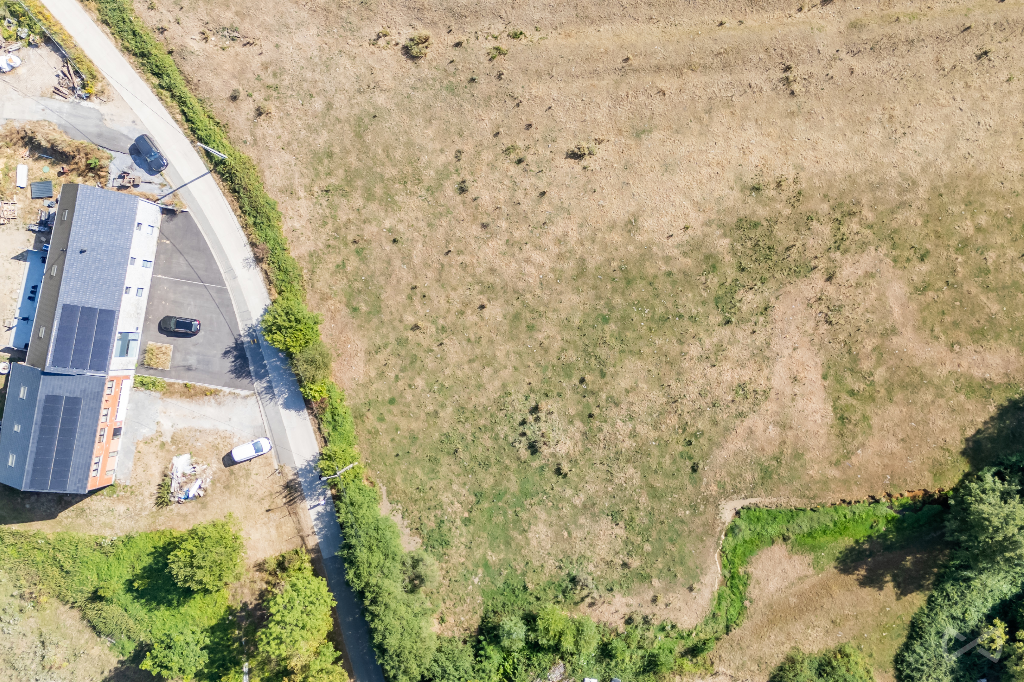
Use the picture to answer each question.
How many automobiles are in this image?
3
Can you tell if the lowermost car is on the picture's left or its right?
left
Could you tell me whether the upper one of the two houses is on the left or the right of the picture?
left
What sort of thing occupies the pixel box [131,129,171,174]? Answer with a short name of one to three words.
car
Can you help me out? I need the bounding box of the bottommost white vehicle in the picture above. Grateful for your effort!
[230,436,276,464]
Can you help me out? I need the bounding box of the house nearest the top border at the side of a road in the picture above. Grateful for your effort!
[29,183,163,378]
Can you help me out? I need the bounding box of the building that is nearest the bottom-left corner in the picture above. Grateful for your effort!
[0,361,132,495]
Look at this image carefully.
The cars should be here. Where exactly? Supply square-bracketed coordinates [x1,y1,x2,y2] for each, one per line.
[131,129,171,174]
[160,313,204,337]
[230,436,276,464]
